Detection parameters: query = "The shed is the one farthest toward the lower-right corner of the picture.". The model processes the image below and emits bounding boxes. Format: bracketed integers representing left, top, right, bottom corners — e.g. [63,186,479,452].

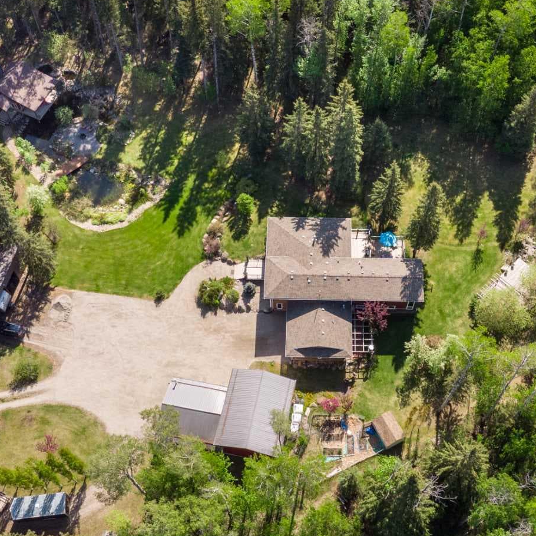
[372,411,404,449]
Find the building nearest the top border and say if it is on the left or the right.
left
